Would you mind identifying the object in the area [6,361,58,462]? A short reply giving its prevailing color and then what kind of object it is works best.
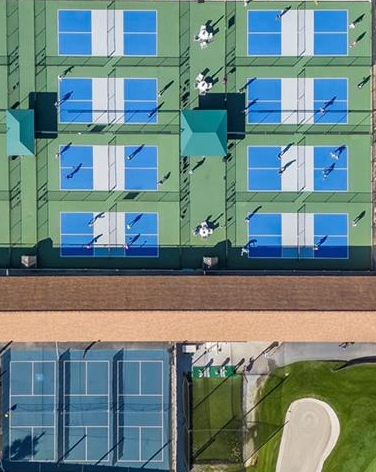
blue tennis court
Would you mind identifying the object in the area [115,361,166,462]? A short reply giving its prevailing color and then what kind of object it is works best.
blue tennis court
